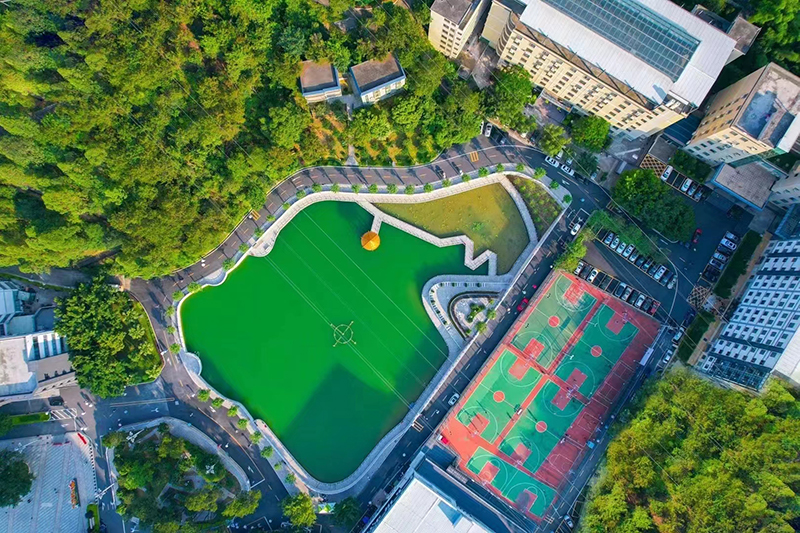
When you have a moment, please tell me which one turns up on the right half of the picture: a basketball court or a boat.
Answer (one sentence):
It is a basketball court that can be seen on the right half of the picture.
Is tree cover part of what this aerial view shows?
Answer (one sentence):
Yes, tree cover shows up in the scene.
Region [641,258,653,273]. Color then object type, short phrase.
blue vehicle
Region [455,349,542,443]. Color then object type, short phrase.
green basketball court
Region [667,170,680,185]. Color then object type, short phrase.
black vehicle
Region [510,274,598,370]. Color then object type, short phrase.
green basketball court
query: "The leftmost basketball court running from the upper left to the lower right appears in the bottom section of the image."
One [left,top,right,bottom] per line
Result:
[465,446,557,518]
